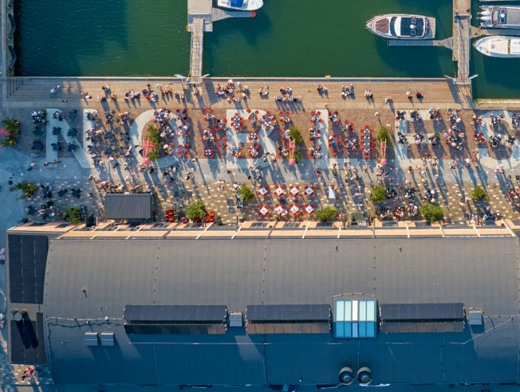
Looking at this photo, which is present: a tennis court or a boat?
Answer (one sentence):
Looking from above, you can make out a boat.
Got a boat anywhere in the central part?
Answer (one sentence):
No, looking in the central part, there is no boat.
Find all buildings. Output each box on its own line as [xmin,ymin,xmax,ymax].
[106,192,157,218]
[6,213,520,384]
